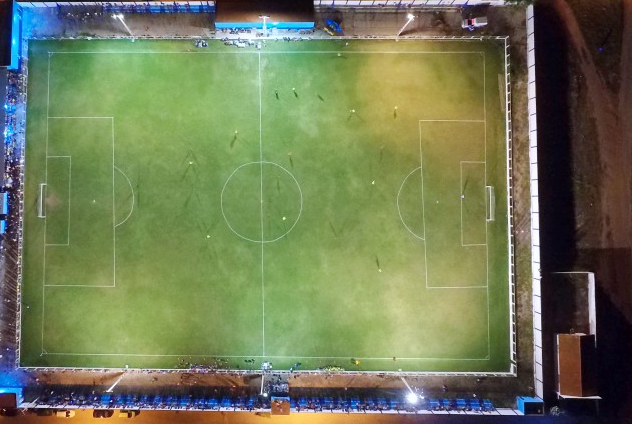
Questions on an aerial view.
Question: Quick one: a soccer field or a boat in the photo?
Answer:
soccer field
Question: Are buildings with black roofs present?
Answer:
Yes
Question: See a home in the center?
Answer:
No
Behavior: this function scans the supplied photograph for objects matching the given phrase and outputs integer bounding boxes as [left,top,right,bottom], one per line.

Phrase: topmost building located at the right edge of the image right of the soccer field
[548,330,602,401]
